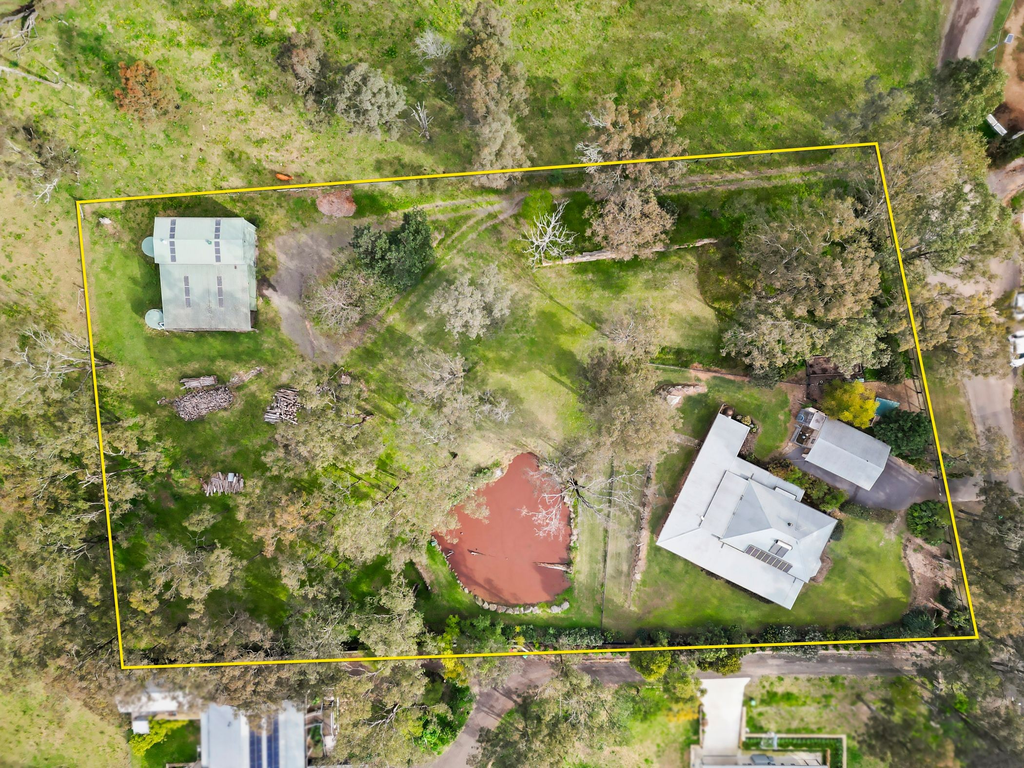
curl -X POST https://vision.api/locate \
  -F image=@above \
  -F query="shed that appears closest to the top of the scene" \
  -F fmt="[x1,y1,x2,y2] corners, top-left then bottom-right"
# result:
[152,217,258,331]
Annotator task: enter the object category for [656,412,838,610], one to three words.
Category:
house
